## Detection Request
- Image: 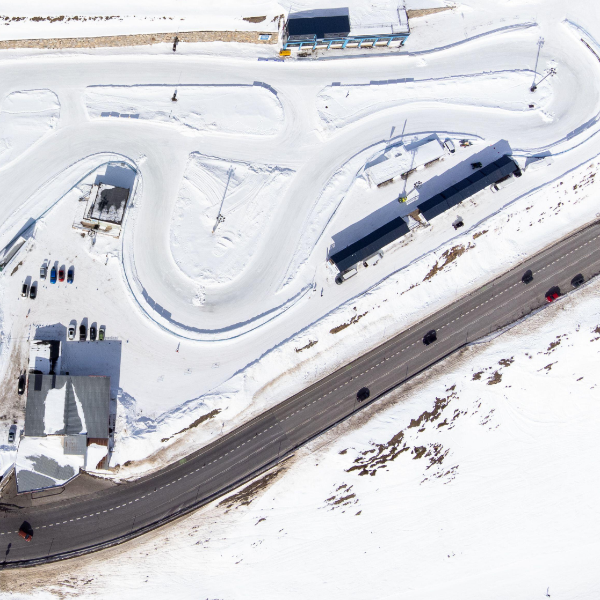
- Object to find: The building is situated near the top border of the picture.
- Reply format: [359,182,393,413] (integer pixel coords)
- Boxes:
[281,7,411,49]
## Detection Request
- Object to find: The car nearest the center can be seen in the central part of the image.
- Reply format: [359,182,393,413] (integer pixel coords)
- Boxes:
[336,269,356,284]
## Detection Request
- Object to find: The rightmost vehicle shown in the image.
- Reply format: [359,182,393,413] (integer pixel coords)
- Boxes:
[569,276,585,288]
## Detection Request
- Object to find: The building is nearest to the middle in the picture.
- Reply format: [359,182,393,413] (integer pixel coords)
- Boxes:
[327,216,410,275]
